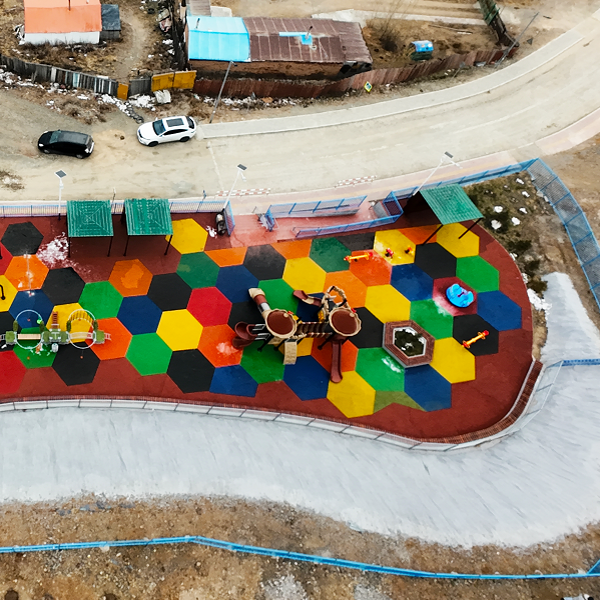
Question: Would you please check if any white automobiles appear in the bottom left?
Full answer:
No, I see no white automobile in the bottom left.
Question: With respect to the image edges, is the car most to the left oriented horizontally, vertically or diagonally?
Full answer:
The car most to the left has been laid out horizontally relative to the frame.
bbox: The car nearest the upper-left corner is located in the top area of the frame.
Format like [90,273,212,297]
[39,132,94,161]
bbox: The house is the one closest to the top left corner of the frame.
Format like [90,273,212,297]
[22,0,102,46]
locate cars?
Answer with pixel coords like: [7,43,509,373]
[39,132,94,161]
[139,118,196,150]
